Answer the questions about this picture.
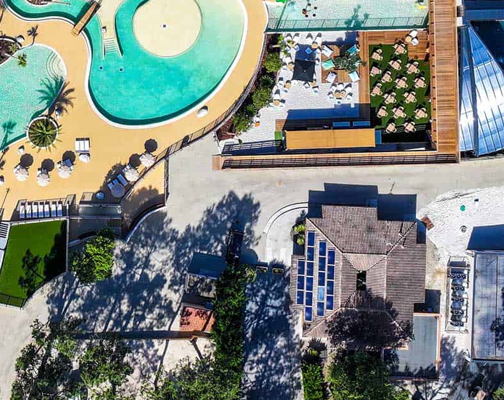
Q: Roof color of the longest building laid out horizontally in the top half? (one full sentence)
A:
The color of the roof on the longest building laid out horizontally in the top half is orange.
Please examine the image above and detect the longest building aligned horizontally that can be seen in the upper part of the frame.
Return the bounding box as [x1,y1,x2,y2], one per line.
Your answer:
[277,119,376,149]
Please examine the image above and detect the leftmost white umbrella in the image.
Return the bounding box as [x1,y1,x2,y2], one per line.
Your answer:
[14,165,29,179]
